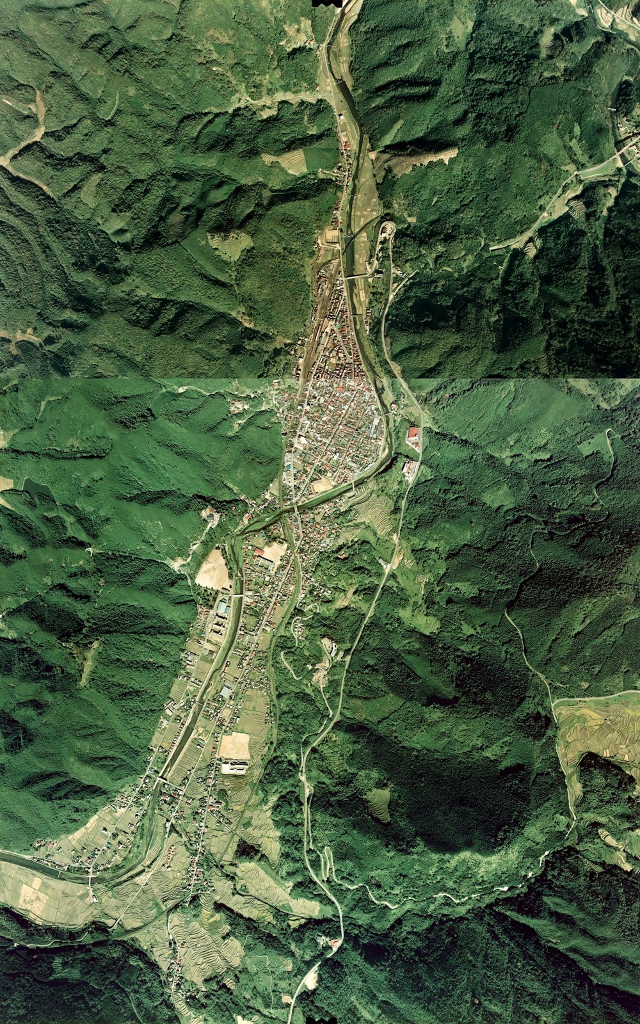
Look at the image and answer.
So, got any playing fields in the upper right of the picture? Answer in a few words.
No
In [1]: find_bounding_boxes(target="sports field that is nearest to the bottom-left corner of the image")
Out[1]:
[219,732,251,758]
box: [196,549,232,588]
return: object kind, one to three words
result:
sports field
